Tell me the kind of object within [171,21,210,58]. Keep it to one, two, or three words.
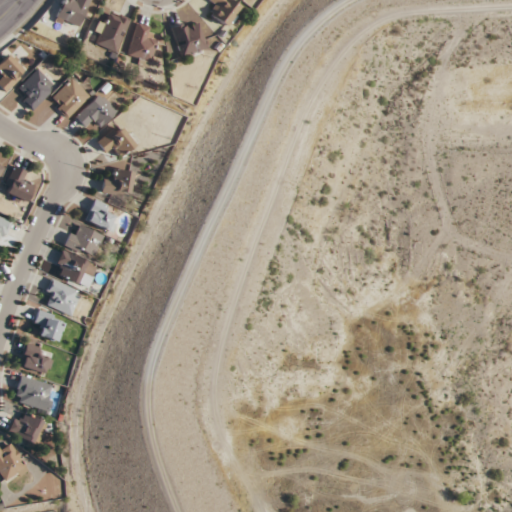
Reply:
house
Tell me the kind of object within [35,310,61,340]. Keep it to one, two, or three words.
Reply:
house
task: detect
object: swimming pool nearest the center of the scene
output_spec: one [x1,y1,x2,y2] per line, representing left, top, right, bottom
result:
[118,212,131,236]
